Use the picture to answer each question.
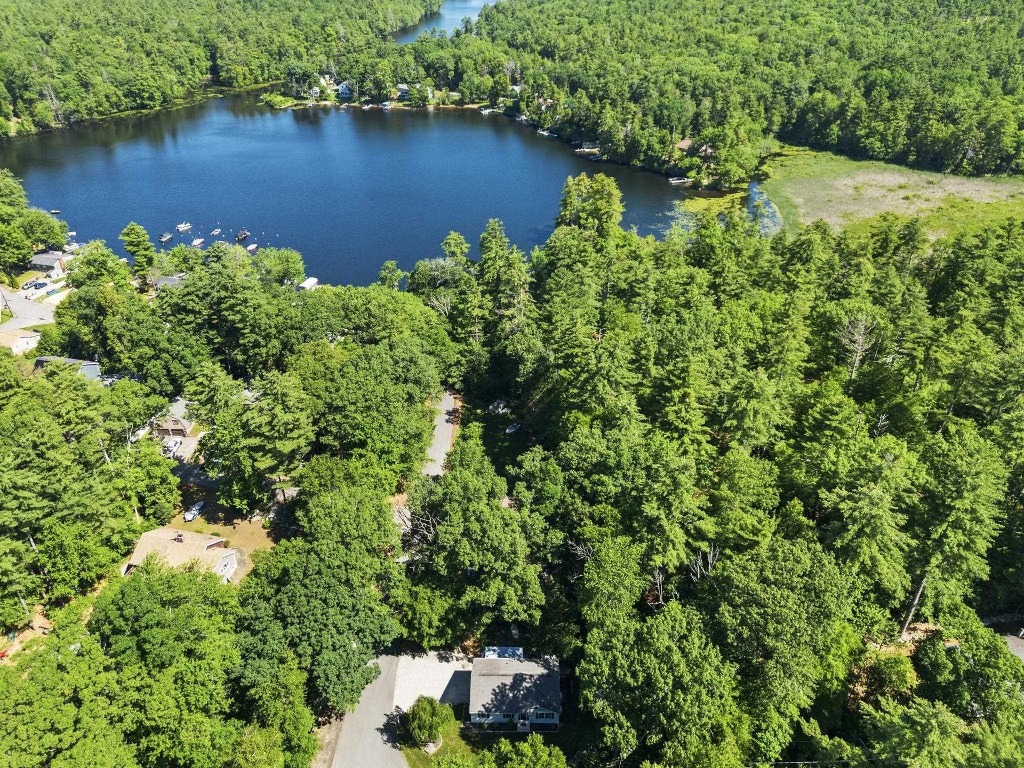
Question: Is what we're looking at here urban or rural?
rural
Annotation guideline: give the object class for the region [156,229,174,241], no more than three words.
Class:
boat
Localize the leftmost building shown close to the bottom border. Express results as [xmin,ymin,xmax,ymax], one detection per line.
[470,645,562,740]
